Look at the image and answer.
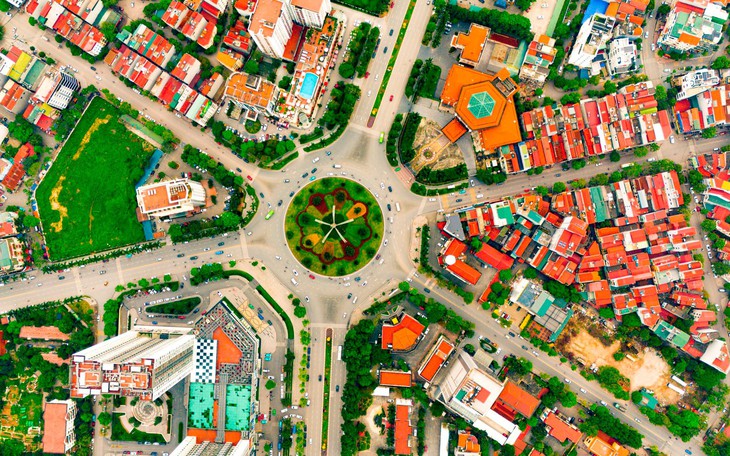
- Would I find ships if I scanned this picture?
No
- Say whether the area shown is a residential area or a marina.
residential area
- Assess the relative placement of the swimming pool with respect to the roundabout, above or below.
above it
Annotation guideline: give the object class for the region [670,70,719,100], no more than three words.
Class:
building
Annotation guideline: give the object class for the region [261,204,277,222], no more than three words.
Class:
vehicle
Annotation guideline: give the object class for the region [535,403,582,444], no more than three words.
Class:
house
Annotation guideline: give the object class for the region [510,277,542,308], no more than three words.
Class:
building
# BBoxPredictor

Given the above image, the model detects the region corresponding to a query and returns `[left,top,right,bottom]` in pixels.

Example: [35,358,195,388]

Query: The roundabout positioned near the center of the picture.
[284,177,384,277]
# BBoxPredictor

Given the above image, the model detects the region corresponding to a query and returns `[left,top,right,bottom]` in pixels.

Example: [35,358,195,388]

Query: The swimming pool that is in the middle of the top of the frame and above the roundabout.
[299,72,321,100]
